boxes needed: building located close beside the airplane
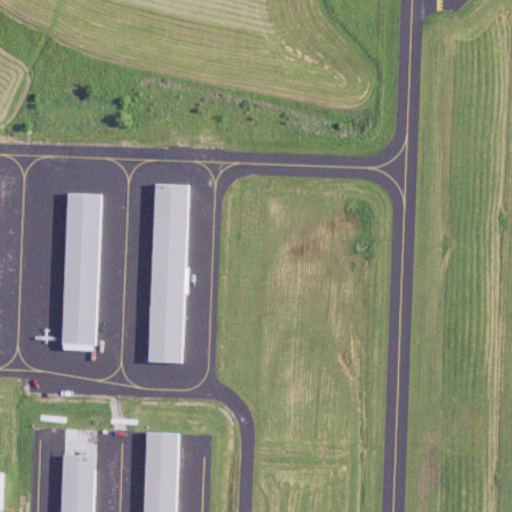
[62,194,104,353]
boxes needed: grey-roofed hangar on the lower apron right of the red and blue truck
[144,432,181,512]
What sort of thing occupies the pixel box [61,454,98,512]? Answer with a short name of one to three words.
hangar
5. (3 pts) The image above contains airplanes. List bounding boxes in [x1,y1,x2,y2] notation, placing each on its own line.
[34,328,56,344]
